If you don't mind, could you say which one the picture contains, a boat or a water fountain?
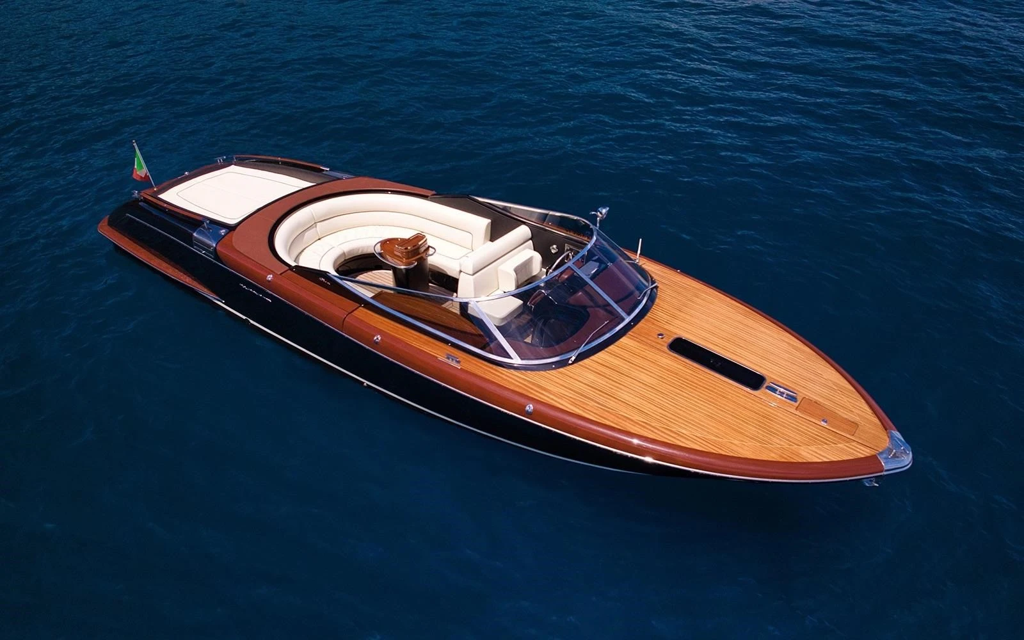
boat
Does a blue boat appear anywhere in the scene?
No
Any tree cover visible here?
No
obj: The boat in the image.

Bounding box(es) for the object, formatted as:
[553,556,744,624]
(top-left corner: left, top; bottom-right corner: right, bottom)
[98,149,915,494]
